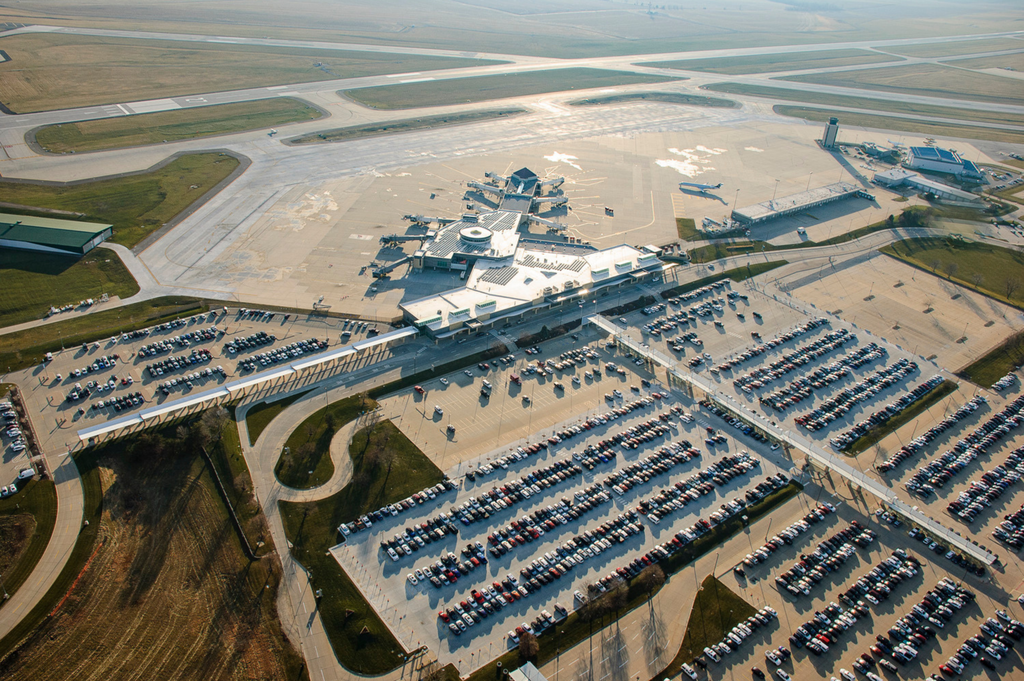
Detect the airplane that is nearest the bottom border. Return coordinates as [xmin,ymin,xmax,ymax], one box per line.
[677,177,726,190]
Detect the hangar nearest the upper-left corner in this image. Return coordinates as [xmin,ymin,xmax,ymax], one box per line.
[0,213,115,256]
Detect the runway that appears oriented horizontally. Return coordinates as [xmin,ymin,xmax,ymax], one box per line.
[0,31,1024,129]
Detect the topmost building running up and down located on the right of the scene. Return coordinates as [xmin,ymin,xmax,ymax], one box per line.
[822,110,842,146]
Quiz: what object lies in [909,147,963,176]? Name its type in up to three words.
hangar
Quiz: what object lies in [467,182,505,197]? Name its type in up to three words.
jet bridge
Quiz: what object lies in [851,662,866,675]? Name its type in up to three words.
vehicle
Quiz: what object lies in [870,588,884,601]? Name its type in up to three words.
vehicle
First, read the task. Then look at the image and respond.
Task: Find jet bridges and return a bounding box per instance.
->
[380,234,427,247]
[527,212,569,232]
[467,182,505,197]
[372,253,413,278]
[533,196,570,207]
[484,172,509,186]
[409,215,462,228]
[537,176,567,189]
